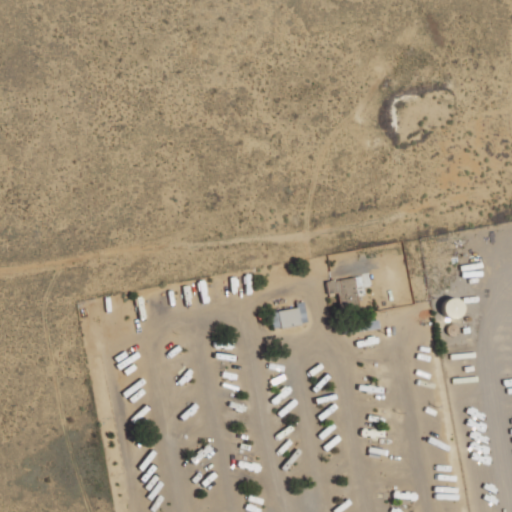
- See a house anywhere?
Yes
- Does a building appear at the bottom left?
No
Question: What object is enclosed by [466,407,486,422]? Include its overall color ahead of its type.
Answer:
white vehicle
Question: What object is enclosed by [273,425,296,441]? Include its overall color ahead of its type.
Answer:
white camper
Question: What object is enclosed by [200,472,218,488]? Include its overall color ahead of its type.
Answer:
white vehicle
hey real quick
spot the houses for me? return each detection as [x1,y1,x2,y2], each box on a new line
[328,274,372,310]
[274,302,308,330]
